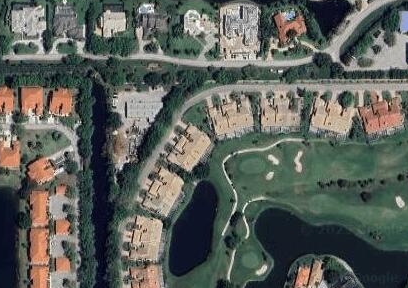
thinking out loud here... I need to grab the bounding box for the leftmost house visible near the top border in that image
[10,7,43,38]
